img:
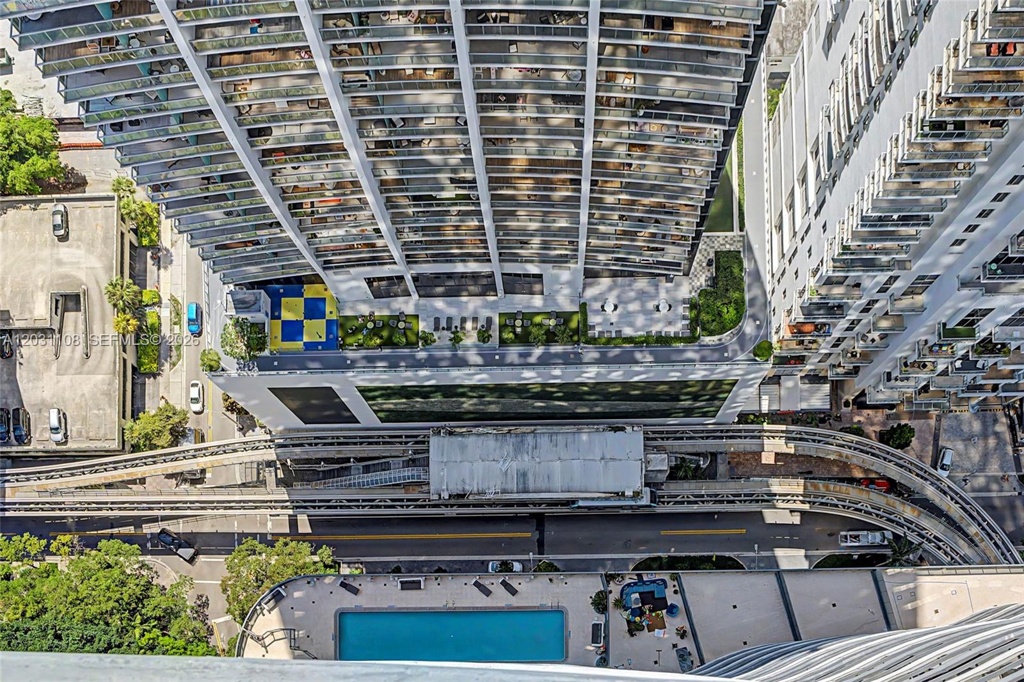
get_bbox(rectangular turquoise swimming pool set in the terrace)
[332,600,570,662]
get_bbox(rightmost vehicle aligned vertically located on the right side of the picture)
[935,445,955,479]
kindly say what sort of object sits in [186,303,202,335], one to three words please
car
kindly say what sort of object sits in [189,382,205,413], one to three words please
car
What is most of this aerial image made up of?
buildings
